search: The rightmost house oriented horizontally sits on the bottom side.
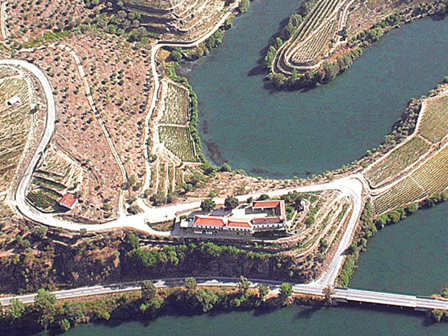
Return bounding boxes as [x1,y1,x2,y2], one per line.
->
[193,199,286,237]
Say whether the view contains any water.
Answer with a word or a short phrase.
Yes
